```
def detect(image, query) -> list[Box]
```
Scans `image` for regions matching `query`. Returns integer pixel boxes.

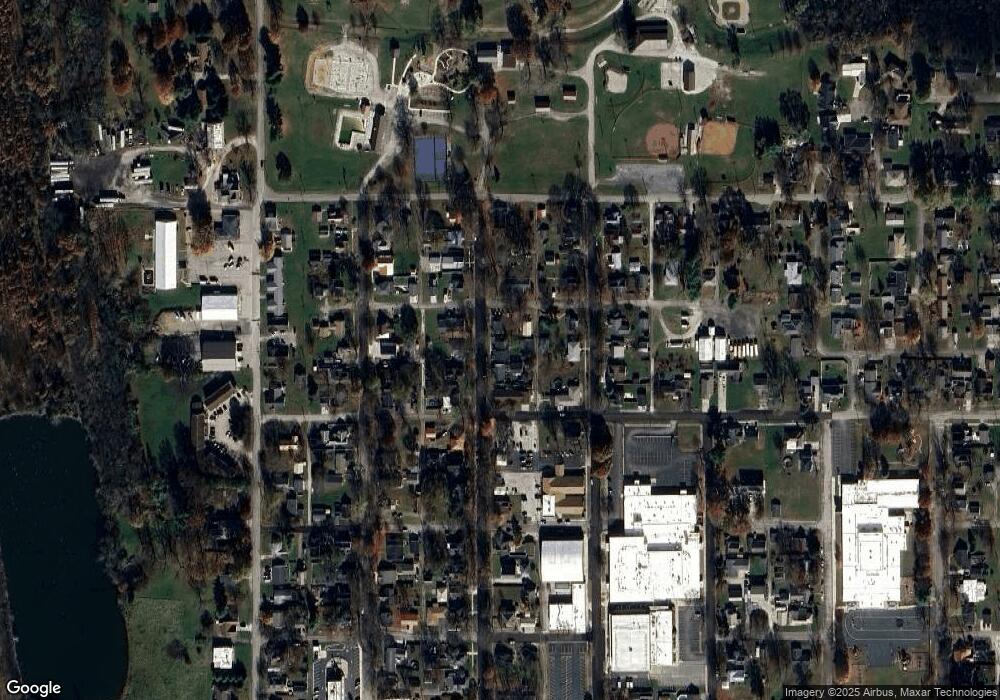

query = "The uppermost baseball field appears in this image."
[717,0,749,25]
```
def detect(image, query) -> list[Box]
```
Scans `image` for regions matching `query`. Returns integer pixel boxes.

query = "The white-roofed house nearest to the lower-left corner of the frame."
[213,647,232,669]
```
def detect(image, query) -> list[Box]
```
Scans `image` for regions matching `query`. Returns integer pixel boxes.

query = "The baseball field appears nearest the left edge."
[646,122,682,159]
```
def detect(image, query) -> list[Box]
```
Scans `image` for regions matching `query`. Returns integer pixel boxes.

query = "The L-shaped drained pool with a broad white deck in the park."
[334,108,366,150]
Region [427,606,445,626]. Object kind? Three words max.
house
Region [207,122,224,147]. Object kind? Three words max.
barn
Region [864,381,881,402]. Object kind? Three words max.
house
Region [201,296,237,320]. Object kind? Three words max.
building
